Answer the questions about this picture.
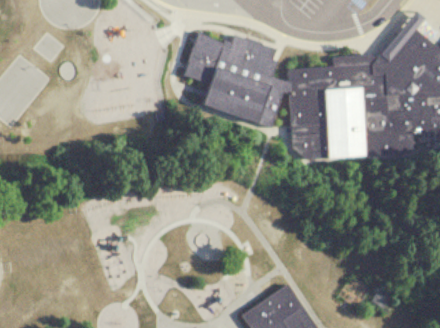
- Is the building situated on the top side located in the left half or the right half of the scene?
right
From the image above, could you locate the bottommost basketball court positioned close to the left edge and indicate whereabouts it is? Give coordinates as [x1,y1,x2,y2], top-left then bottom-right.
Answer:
[0,56,50,126]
